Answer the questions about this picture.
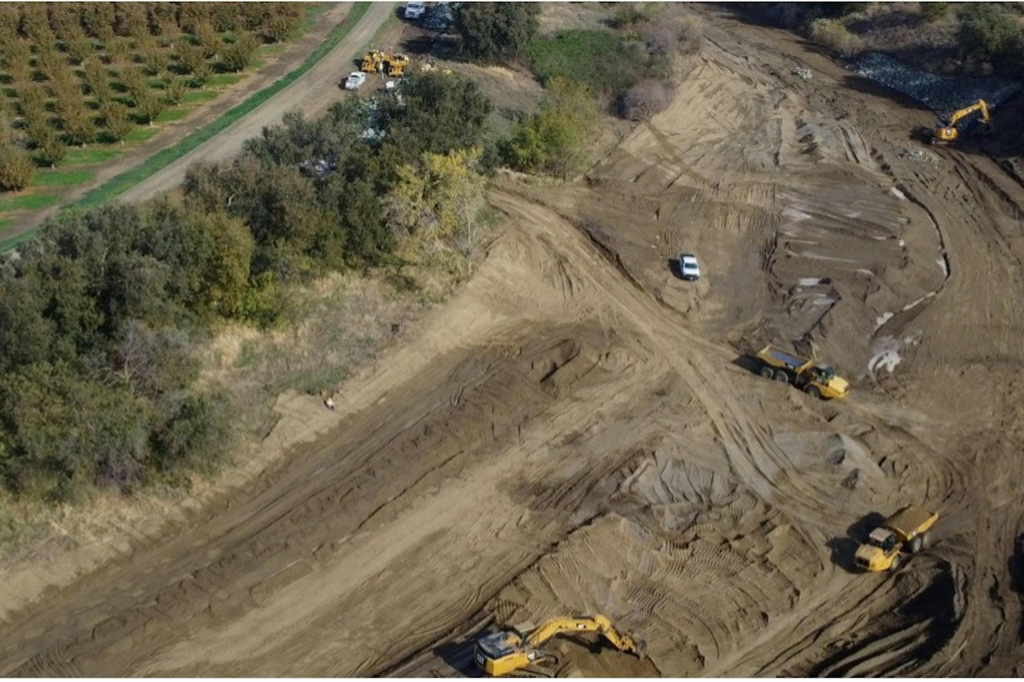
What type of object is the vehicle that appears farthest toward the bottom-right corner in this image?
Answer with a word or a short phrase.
truck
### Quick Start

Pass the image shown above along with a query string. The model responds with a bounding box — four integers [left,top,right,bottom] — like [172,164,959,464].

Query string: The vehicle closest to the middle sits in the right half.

[683,253,702,282]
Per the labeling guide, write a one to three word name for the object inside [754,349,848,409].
truck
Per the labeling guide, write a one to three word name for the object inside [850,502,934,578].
truck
